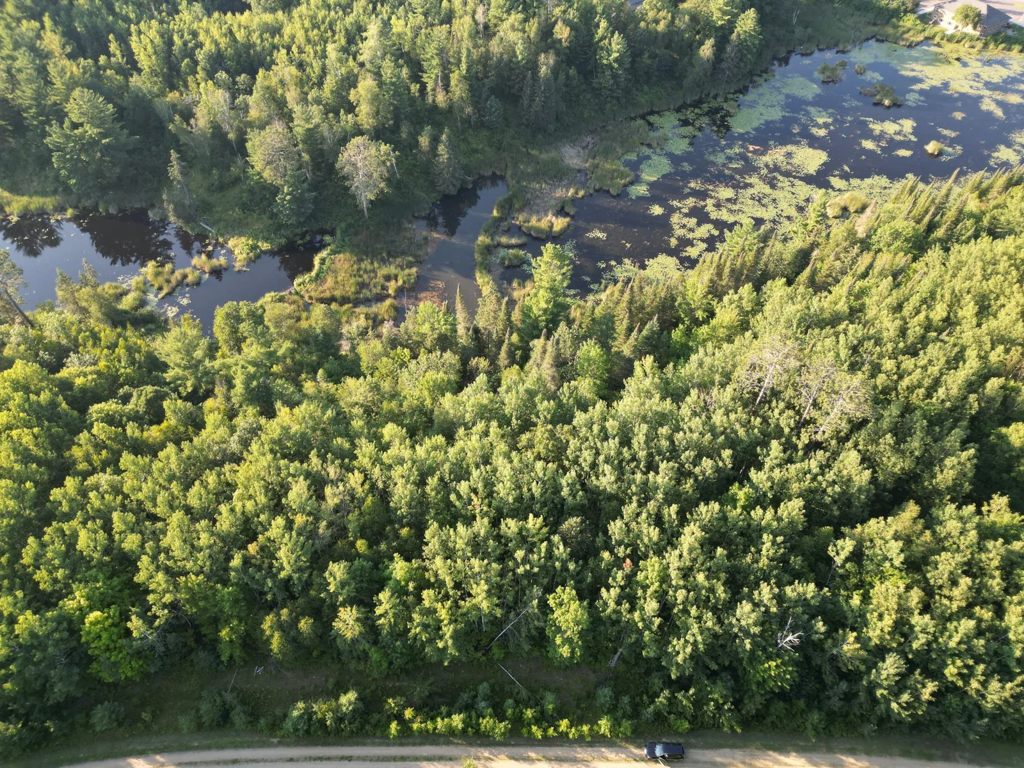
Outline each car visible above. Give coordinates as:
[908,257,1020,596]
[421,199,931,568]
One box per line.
[645,740,686,768]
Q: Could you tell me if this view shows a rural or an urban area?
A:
rural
